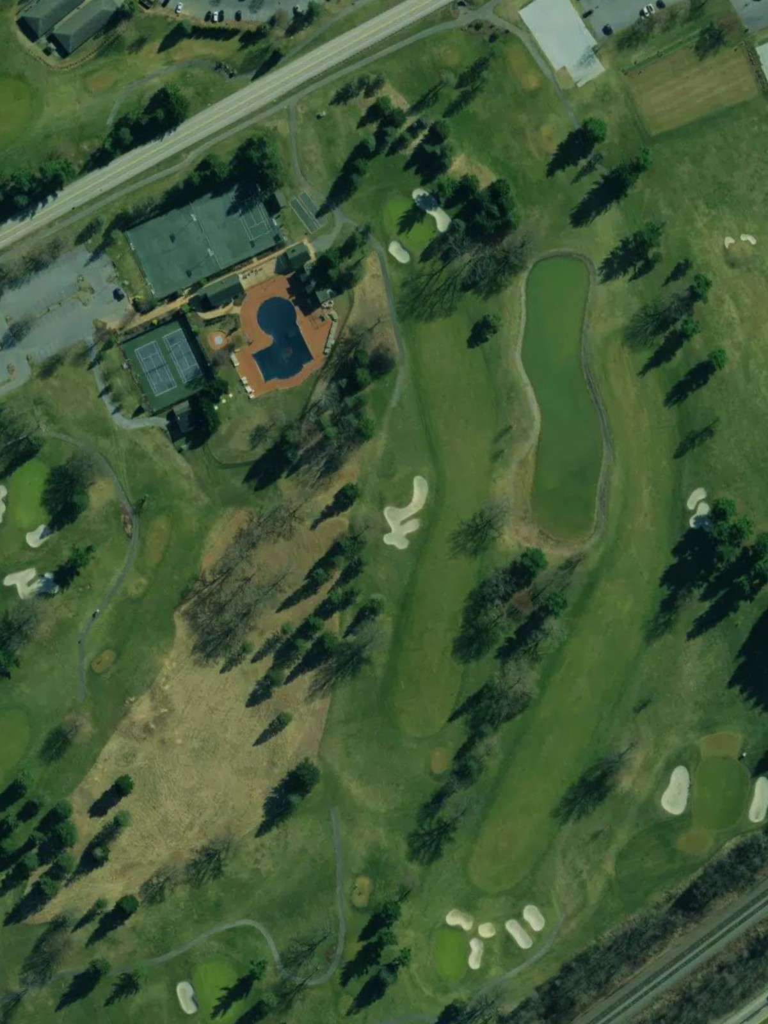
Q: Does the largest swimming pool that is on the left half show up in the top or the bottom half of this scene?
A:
top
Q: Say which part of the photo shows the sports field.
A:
top right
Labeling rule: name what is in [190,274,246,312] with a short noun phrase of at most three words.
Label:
building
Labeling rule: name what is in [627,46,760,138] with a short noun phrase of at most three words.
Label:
sports field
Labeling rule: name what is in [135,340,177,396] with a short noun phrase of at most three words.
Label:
tennis court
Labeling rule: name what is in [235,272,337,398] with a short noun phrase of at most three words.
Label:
swimming pool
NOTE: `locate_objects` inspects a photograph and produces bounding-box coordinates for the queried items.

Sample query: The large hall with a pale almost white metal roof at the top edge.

[519,0,606,87]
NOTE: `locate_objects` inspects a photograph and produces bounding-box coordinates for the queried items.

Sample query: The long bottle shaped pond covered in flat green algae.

[522,255,605,543]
